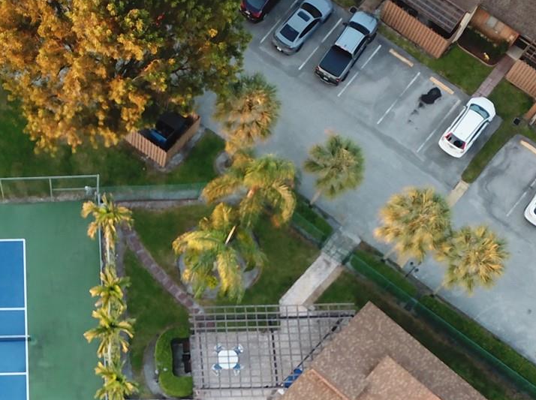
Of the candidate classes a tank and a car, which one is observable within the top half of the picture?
car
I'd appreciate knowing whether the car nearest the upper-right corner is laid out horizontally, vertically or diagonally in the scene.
diagonally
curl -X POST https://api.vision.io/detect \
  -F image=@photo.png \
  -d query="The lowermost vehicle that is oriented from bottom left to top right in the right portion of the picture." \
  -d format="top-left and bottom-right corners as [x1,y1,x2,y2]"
[439,95,497,160]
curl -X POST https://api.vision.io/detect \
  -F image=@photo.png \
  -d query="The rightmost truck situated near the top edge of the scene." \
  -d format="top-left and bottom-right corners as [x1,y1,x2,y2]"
[312,9,382,84]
